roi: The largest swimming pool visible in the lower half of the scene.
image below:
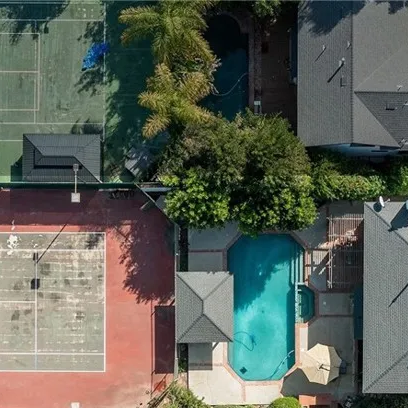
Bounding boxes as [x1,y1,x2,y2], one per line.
[224,231,308,383]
